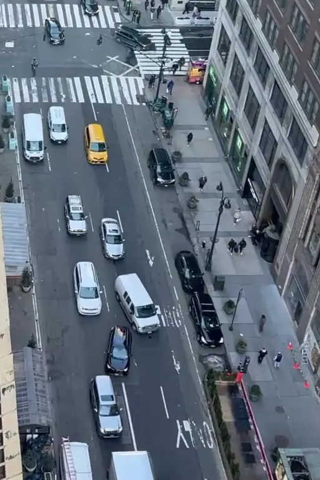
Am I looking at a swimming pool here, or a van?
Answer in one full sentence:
It is a van that can be seen here.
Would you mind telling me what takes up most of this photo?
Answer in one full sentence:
What you mostly see from above here is paved ground.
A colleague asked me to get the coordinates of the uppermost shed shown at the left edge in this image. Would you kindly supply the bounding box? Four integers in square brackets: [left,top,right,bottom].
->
[0,202,34,300]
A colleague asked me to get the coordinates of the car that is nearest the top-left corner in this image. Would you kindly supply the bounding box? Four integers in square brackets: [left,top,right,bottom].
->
[42,16,64,45]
